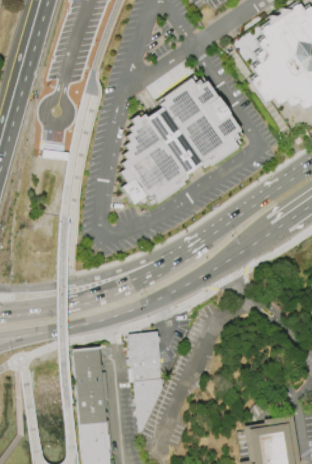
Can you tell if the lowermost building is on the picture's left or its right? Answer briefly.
right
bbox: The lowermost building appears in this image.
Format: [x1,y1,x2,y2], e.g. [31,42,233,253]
[237,417,299,464]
